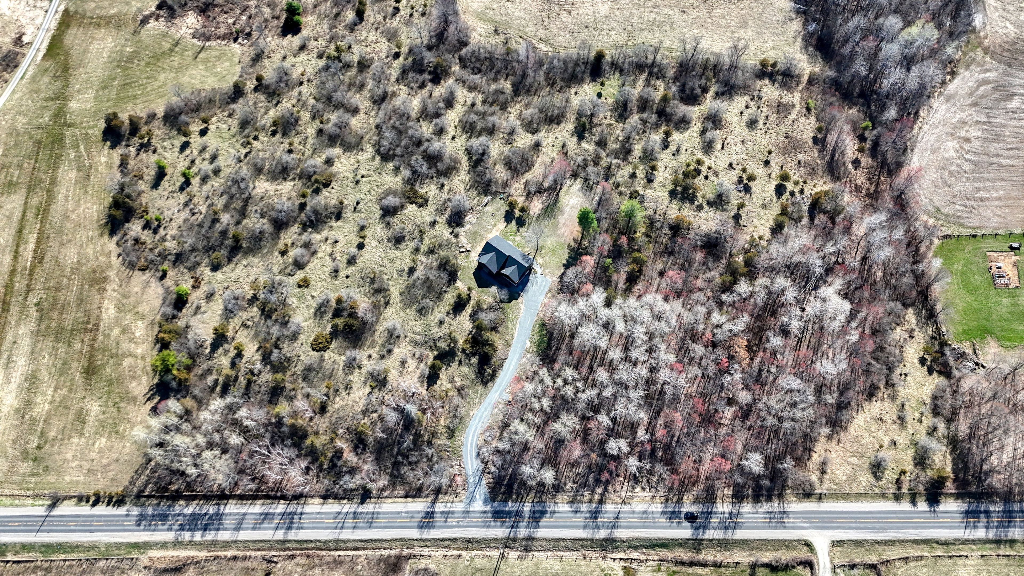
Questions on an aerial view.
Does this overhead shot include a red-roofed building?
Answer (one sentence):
No, no red-roofed building can be seen from above.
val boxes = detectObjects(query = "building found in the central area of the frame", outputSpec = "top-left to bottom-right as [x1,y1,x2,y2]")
[474,235,535,287]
